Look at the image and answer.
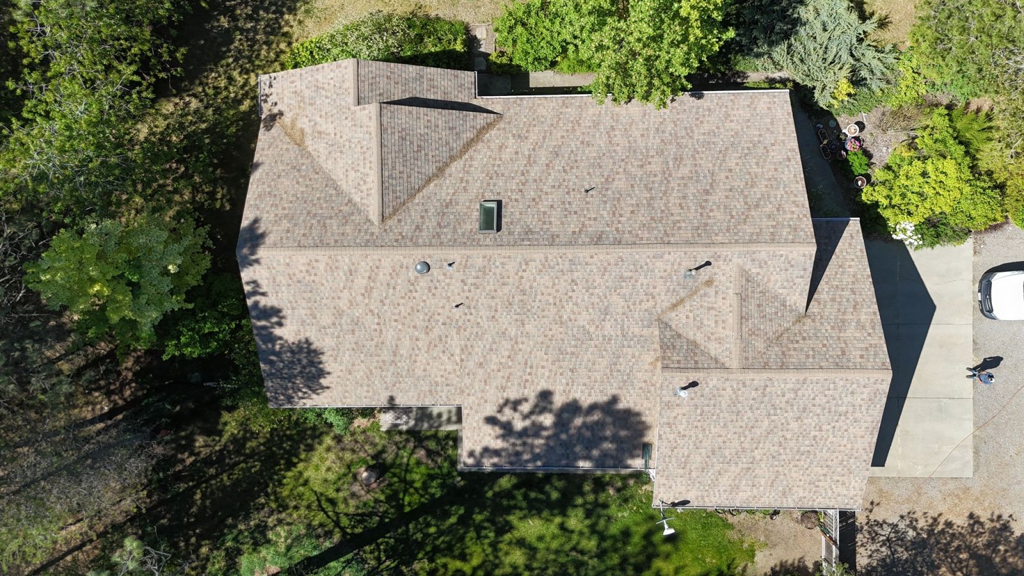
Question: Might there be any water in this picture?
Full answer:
No, there's no water in this view.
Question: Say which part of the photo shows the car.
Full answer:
The car is in the right part of the image.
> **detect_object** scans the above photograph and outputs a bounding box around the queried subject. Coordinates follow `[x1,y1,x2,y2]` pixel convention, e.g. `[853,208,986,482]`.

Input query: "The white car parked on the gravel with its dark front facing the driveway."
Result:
[978,270,1024,321]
